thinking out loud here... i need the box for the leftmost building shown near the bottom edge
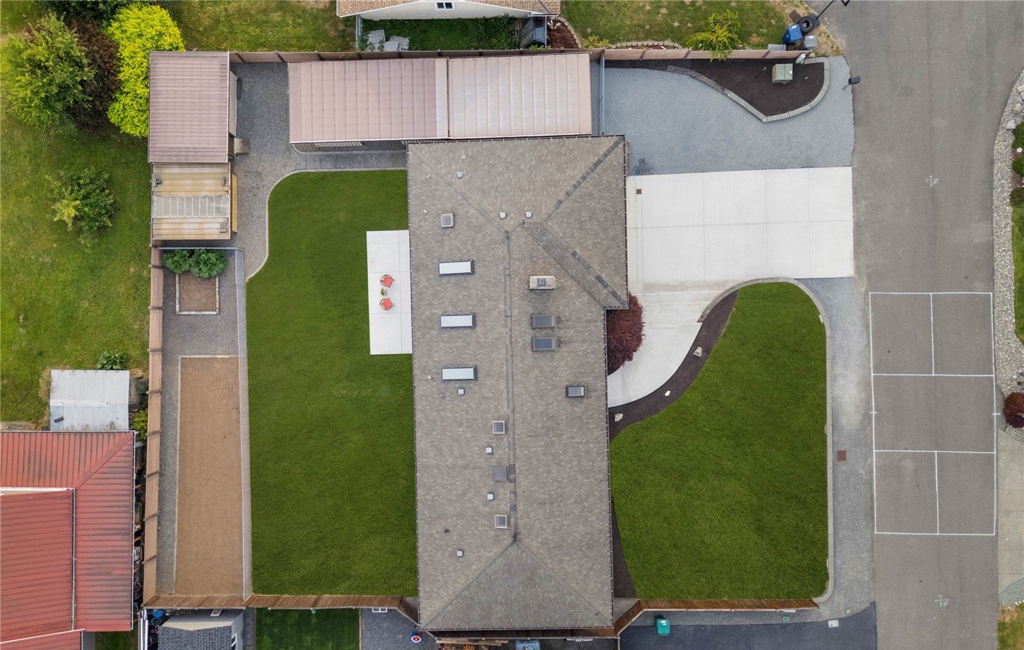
[0,430,136,650]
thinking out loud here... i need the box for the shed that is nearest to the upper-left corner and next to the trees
[148,52,237,162]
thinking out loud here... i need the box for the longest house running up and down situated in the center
[405,134,631,633]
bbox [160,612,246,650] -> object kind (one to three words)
shed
